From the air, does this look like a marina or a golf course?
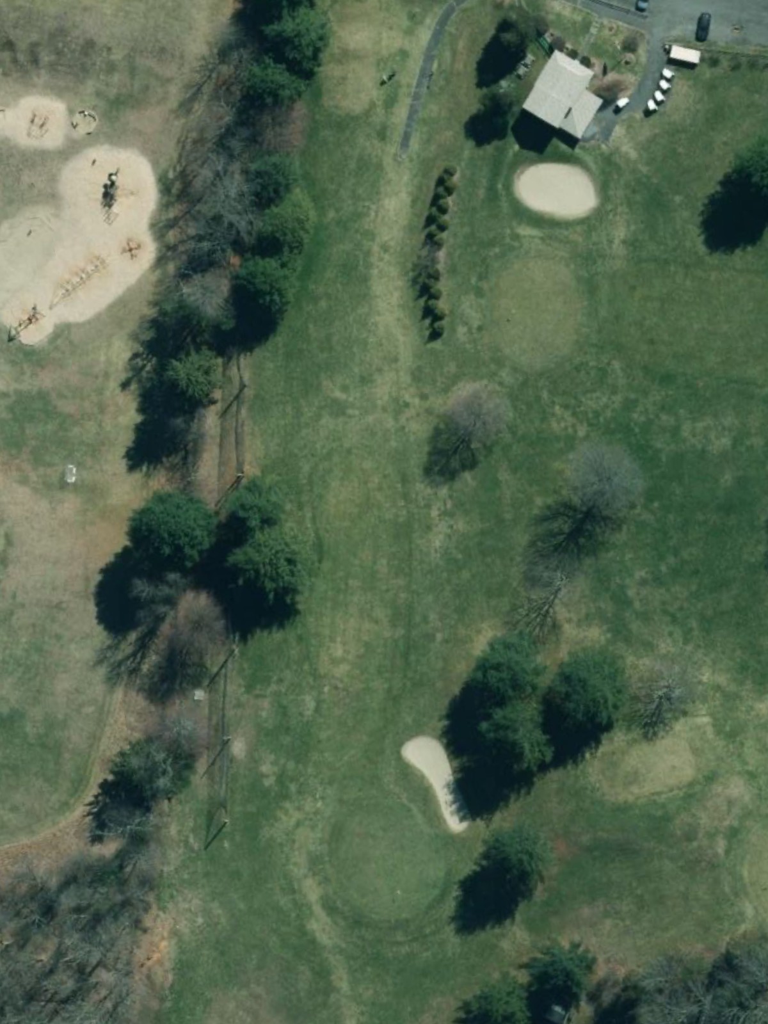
golf course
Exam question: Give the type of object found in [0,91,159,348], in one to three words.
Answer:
playground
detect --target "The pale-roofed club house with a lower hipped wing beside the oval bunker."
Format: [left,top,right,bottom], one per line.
[523,50,603,138]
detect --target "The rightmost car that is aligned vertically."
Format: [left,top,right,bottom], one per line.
[696,12,711,42]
